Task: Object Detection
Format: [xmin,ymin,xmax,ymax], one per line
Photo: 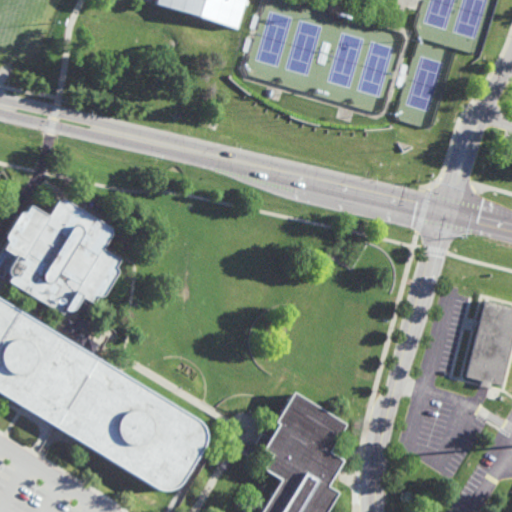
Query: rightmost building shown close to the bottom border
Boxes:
[263,392,347,512]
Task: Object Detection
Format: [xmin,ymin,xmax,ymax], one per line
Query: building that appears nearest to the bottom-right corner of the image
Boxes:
[466,302,512,389]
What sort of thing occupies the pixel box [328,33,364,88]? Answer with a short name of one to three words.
tennis court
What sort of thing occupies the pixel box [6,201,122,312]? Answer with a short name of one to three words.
building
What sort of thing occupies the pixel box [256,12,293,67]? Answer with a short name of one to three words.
tennis court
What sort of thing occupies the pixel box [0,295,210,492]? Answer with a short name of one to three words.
building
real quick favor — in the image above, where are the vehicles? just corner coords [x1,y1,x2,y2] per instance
[33,494,43,502]
[224,152,234,157]
[431,401,442,407]
[20,486,30,494]
[483,460,492,467]
[256,174,266,179]
[30,500,40,508]
[64,16,70,27]
[486,454,496,462]
[19,493,28,500]
[430,412,440,418]
[296,182,306,188]
[58,503,68,511]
